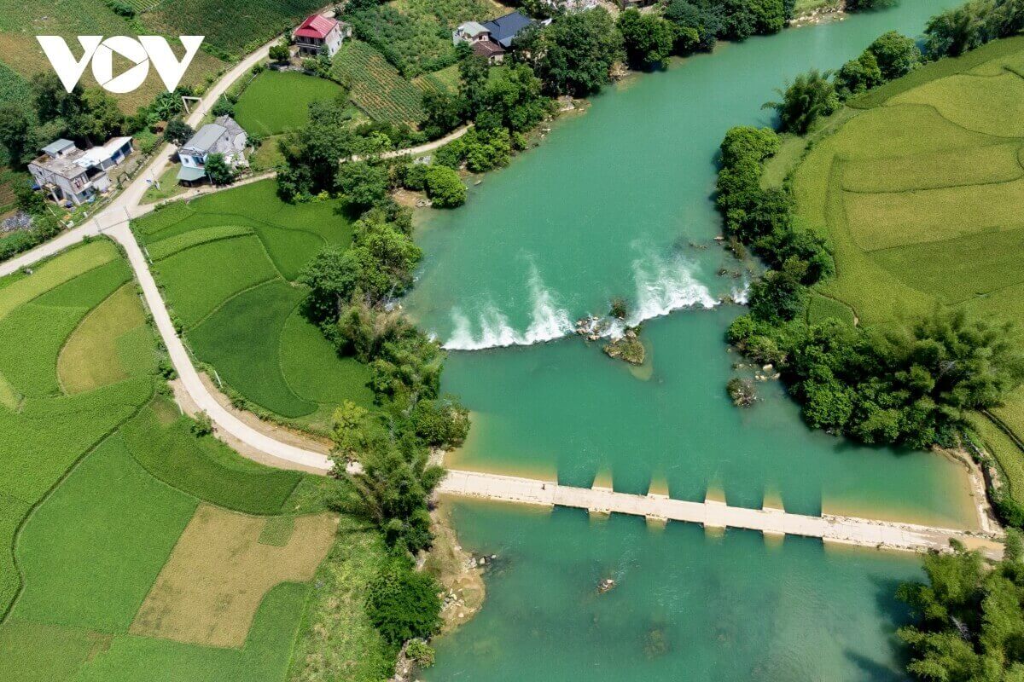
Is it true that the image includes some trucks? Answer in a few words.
No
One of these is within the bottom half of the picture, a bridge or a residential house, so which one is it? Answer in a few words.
bridge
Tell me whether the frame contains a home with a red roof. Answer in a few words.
Yes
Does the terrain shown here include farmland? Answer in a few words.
Yes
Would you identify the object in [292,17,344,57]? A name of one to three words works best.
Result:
house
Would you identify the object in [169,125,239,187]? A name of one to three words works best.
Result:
house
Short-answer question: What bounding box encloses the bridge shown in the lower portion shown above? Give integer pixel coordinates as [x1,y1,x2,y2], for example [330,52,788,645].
[424,471,987,556]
